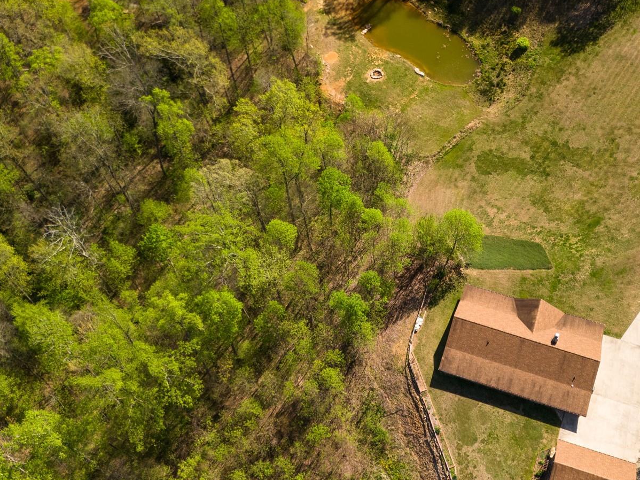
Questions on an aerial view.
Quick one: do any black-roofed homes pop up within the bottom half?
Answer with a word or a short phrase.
No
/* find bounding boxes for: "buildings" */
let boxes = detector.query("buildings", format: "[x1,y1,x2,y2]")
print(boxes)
[438,284,604,418]
[549,439,637,480]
